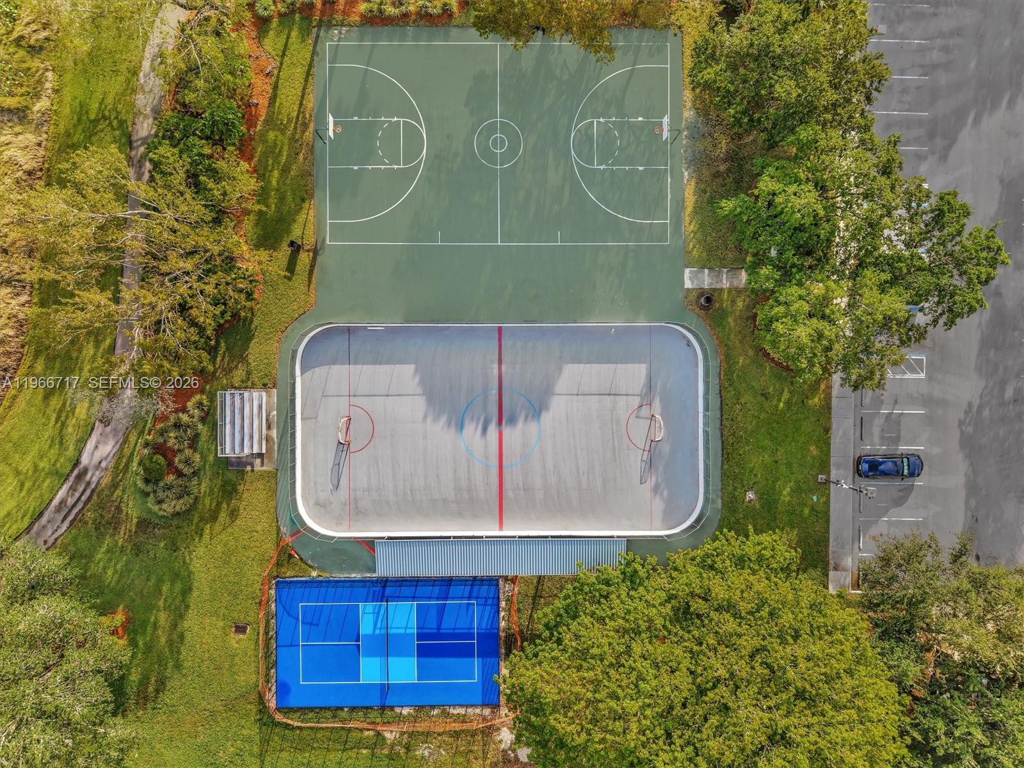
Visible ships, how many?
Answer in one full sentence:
There are no ships in this view.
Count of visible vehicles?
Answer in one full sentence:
The picture shows 1 vehicle.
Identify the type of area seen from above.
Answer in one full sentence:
The area seen from above is a sports ground.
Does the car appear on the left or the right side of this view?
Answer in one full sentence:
The car appears in the right half of the scene.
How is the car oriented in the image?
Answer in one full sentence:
The car has been laid out from side to side relative to the frame.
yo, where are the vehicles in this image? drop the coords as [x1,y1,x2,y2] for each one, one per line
[853,452,921,481]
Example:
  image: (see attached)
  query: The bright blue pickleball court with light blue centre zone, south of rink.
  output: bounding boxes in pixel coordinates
[276,579,499,708]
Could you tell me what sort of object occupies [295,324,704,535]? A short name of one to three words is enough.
sports court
